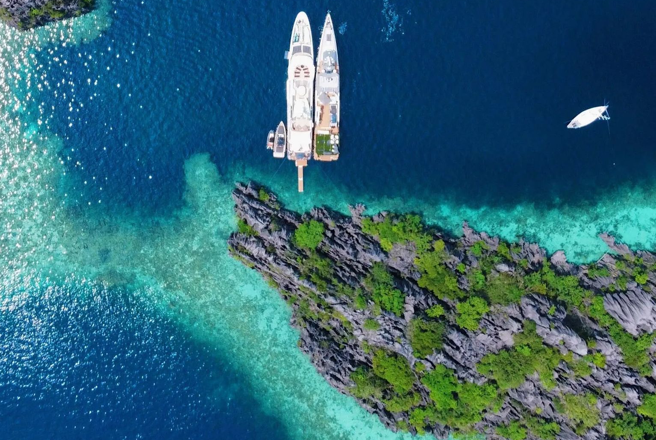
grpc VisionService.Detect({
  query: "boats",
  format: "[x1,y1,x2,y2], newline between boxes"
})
[273,122,285,158]
[284,10,315,161]
[266,130,274,149]
[314,10,340,161]
[570,102,611,129]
